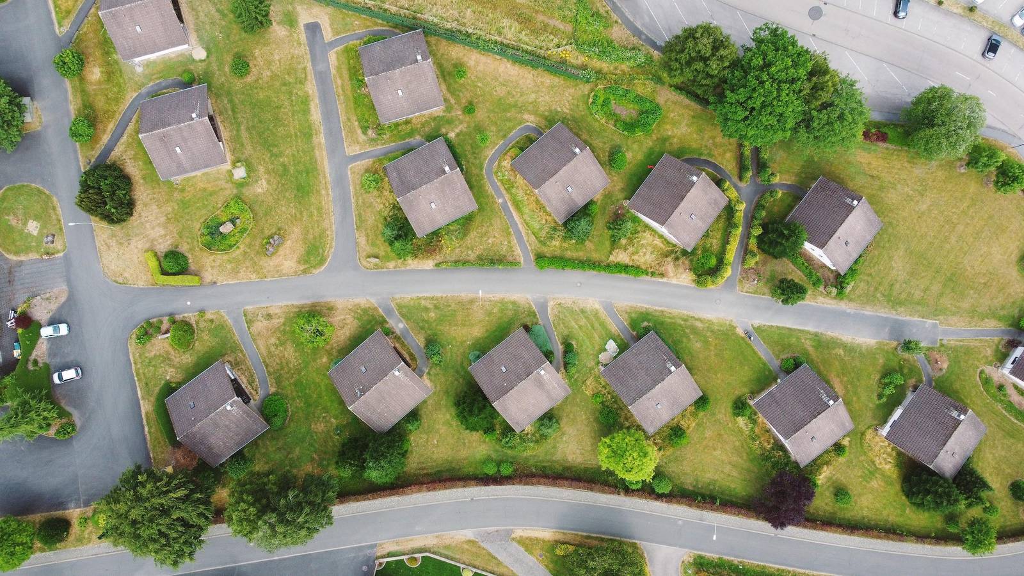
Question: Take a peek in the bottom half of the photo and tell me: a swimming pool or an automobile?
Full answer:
Looking in the bottom half of the photo, you will find an automobile.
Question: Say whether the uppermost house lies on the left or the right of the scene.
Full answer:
The uppermost house sits on the left side.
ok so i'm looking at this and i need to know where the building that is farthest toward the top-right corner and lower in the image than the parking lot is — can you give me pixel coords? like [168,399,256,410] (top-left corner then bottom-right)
[786,175,884,274]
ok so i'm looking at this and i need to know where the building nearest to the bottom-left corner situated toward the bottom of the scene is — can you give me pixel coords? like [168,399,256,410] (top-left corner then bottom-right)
[166,360,270,467]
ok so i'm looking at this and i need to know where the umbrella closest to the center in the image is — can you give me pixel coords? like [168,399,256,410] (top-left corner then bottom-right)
[599,351,613,365]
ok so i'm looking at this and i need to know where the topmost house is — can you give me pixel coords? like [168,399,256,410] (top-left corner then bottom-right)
[97,0,193,62]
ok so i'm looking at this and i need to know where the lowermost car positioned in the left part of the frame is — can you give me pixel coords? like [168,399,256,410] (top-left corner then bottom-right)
[53,368,83,384]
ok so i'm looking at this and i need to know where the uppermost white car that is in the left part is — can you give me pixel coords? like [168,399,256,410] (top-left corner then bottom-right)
[39,323,71,337]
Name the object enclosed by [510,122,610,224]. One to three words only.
house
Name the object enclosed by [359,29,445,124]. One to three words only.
house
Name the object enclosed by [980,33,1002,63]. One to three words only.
car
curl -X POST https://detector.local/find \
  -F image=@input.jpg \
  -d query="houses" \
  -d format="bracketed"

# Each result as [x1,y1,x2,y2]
[751,363,855,467]
[383,137,478,238]
[786,175,884,274]
[601,331,704,436]
[881,384,988,477]
[138,84,231,180]
[998,336,1024,390]
[627,153,729,253]
[359,29,445,124]
[97,0,193,62]
[510,122,610,224]
[166,360,270,467]
[469,327,571,432]
[329,329,433,432]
